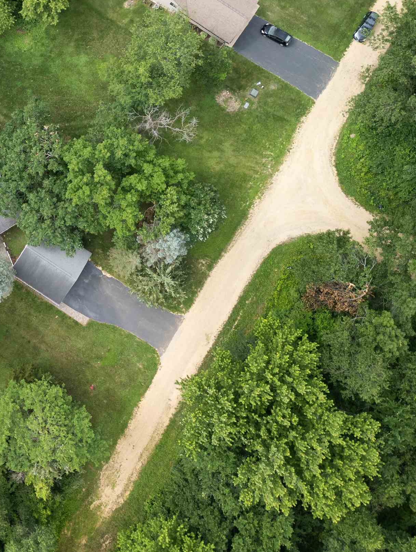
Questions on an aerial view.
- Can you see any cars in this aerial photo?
Yes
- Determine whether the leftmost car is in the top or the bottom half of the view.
top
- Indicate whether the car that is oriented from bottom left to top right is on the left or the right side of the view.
right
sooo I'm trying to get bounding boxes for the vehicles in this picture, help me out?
[353,11,379,43]
[261,25,293,45]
